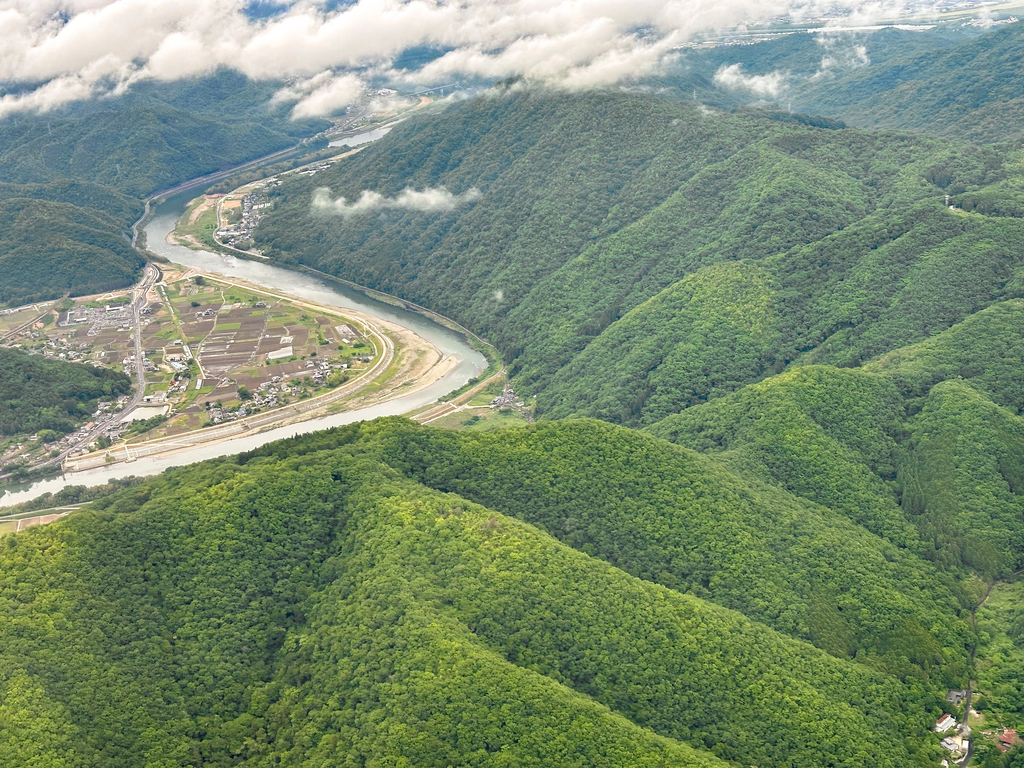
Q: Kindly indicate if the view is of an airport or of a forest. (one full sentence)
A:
This looks like a forest.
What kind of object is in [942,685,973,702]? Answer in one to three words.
house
